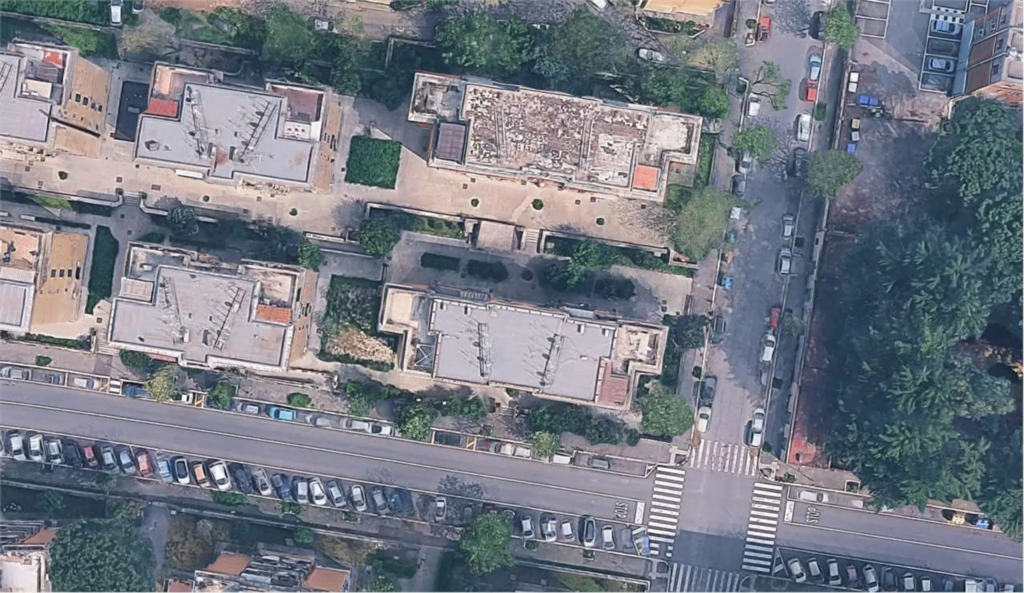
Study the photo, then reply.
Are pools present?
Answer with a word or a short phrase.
No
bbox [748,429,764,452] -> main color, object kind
white car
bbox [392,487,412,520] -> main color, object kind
blue car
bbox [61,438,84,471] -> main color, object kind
blue car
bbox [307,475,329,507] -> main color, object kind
white car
